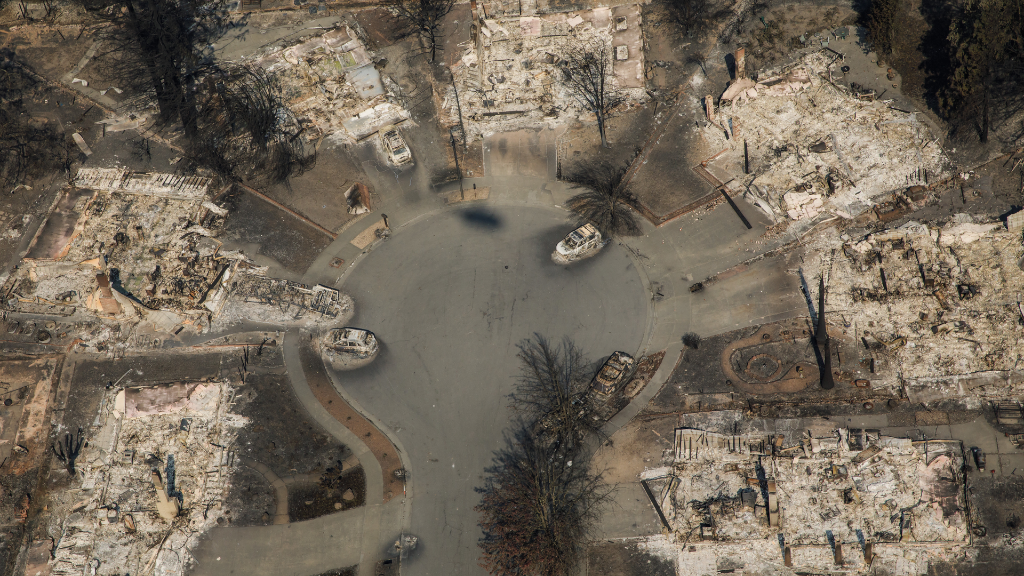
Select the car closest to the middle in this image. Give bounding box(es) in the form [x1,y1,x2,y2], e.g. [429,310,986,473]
[548,220,611,266]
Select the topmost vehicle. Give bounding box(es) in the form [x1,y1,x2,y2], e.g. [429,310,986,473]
[377,124,416,173]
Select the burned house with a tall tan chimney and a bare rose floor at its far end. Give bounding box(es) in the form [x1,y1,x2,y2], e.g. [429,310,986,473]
[37,372,263,576]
